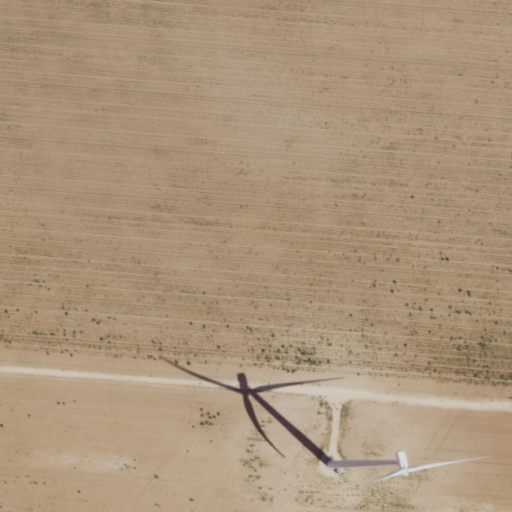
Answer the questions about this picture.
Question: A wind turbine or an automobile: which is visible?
wind turbine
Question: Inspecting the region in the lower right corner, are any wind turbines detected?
Yes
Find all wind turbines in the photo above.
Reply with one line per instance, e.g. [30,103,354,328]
[325,451,498,490]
